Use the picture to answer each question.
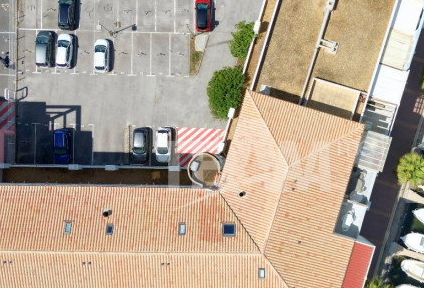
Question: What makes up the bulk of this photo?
buildings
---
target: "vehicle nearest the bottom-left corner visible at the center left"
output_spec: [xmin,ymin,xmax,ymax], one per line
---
[53,130,74,164]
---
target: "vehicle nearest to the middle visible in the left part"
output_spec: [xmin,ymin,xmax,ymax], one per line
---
[154,127,172,164]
